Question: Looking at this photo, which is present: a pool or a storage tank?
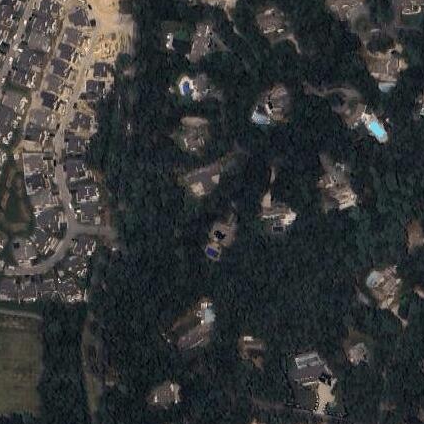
pool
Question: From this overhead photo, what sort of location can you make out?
residential area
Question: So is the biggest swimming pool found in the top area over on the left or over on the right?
right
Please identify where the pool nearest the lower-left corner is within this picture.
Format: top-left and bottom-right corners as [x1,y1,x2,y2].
[203,308,216,324]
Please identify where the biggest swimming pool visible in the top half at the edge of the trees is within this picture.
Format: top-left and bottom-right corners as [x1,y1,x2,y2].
[363,112,388,143]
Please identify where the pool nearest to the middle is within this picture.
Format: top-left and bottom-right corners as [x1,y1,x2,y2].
[203,244,221,260]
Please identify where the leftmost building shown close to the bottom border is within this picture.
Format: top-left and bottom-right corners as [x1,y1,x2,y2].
[149,384,179,405]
